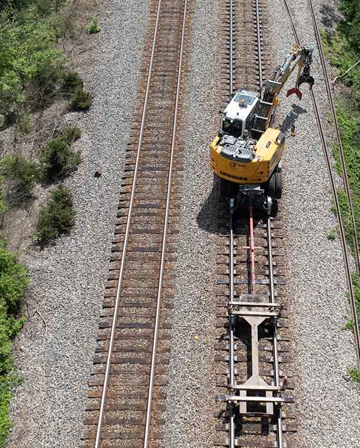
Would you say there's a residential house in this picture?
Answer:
No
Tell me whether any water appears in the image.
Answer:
No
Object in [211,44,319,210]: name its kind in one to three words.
work vehicle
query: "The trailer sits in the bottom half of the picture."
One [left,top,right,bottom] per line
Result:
[226,204,290,422]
